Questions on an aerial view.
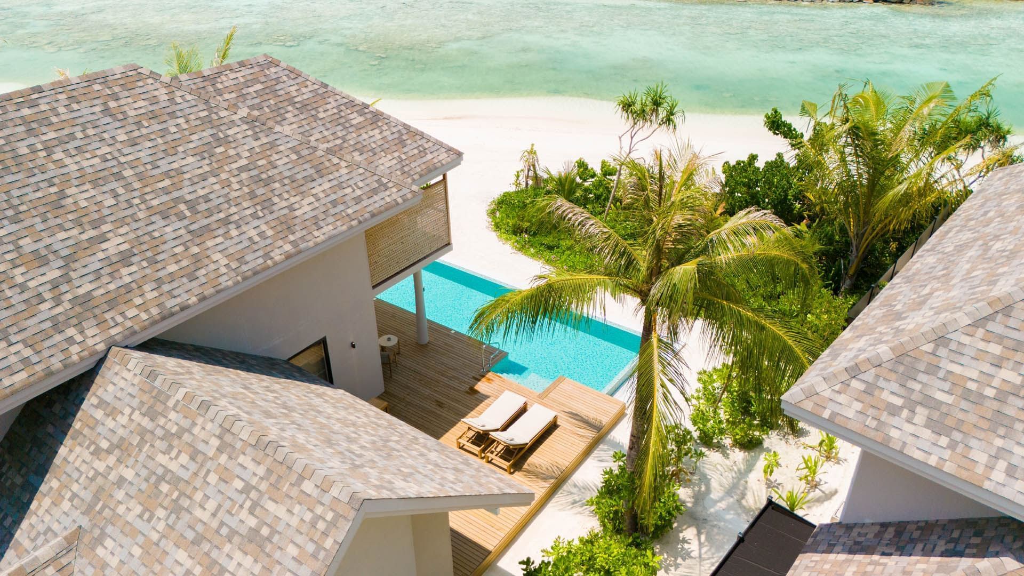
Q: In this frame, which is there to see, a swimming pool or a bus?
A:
swimming pool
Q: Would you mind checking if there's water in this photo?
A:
Yes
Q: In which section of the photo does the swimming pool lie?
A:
center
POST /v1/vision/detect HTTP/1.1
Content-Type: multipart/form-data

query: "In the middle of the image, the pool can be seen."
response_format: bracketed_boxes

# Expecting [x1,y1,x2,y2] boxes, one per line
[374,259,661,399]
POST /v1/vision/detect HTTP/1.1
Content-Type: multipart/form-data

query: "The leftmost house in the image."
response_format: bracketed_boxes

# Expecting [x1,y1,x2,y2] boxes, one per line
[0,54,535,576]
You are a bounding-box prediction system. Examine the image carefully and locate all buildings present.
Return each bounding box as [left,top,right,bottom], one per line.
[0,54,535,576]
[777,163,1024,576]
